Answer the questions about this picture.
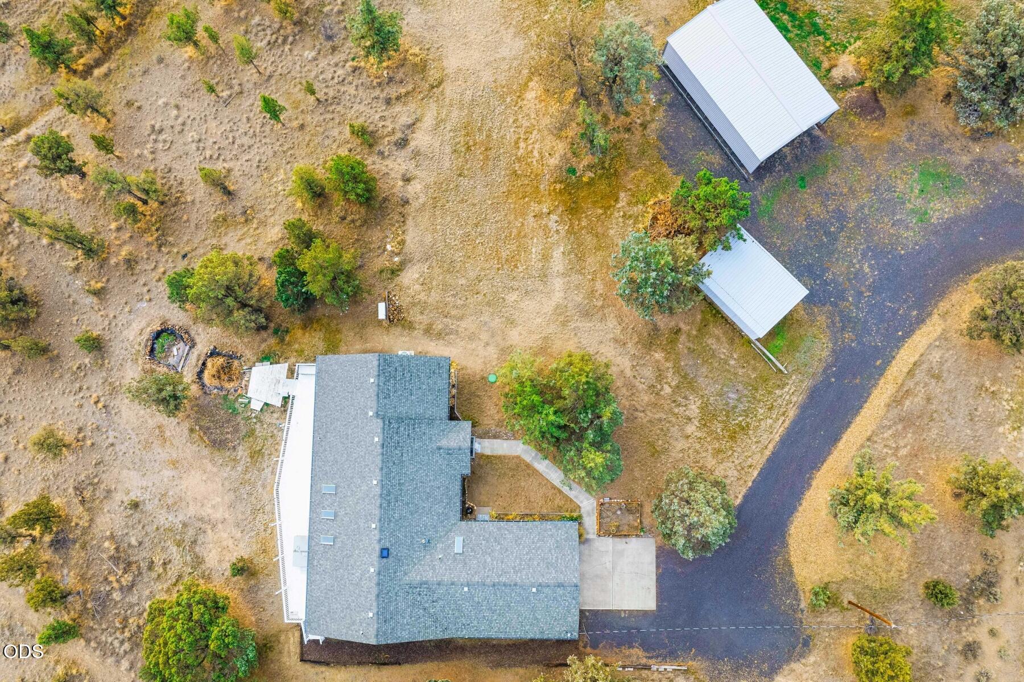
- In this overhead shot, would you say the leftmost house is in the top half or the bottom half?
bottom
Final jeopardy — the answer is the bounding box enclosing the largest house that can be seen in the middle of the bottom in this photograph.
[304,354,582,646]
